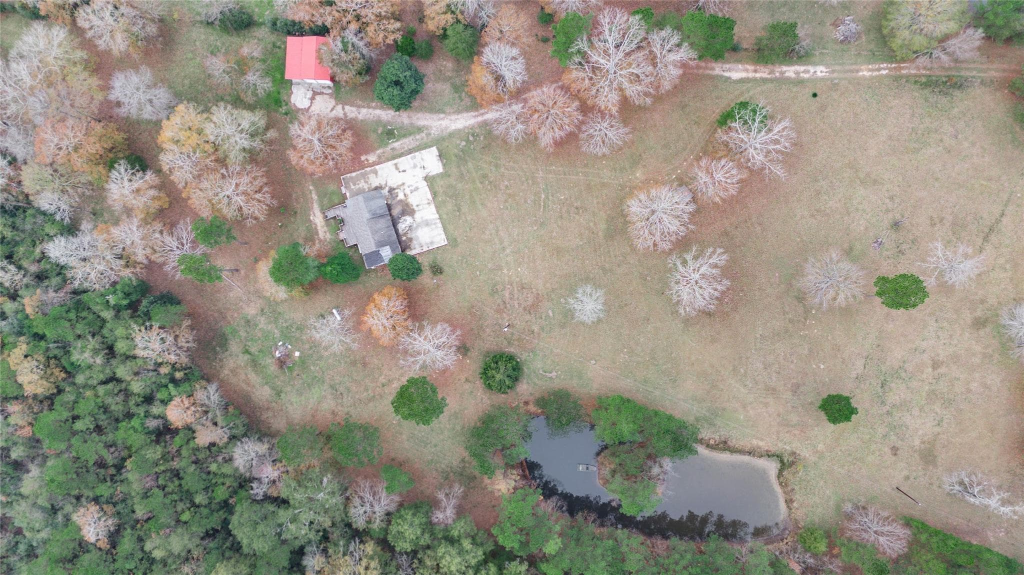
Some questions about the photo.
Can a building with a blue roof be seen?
No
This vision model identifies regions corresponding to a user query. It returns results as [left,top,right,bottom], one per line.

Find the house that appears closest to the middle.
[346,190,401,269]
